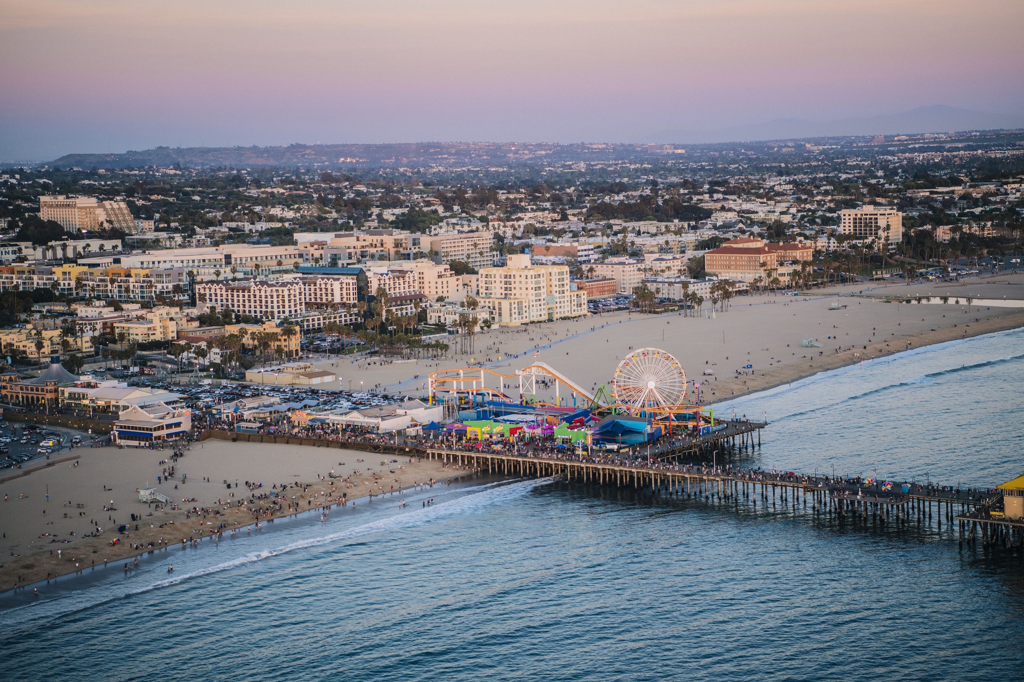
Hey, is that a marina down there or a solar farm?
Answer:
marina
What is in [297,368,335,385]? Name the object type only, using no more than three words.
building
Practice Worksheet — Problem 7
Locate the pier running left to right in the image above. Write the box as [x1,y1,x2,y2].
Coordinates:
[0,371,1024,543]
